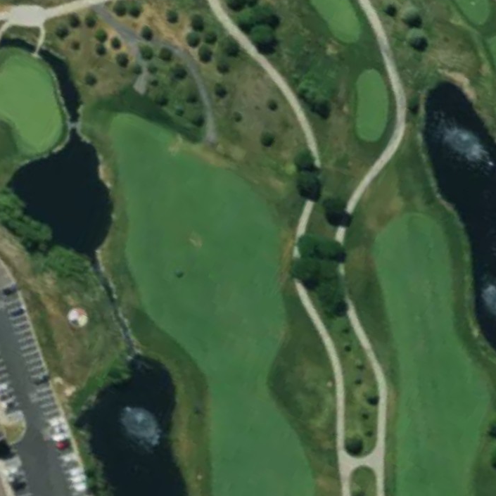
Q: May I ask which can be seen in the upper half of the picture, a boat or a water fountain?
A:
water fountain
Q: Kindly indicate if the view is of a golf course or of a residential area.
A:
golf course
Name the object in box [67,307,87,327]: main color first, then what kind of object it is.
white tent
